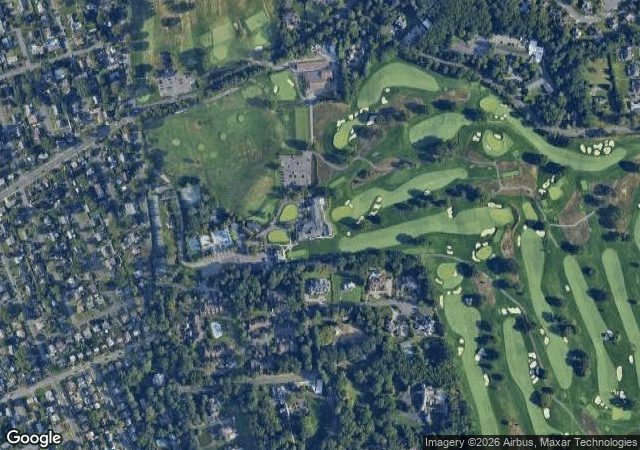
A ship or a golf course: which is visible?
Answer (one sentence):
The one in the frame is a golf course.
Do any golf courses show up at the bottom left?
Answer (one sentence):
No, the scene shows no golf course at the bottom left.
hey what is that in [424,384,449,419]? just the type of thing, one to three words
house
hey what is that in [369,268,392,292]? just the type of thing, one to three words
house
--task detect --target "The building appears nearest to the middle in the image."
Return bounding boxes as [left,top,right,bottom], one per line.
[300,197,332,242]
